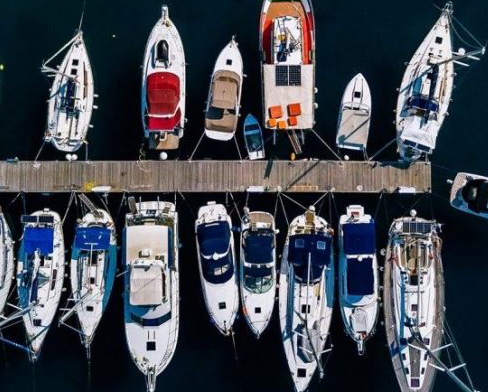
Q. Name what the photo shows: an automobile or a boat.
boat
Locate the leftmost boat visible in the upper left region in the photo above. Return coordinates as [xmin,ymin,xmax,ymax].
[38,33,98,151]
